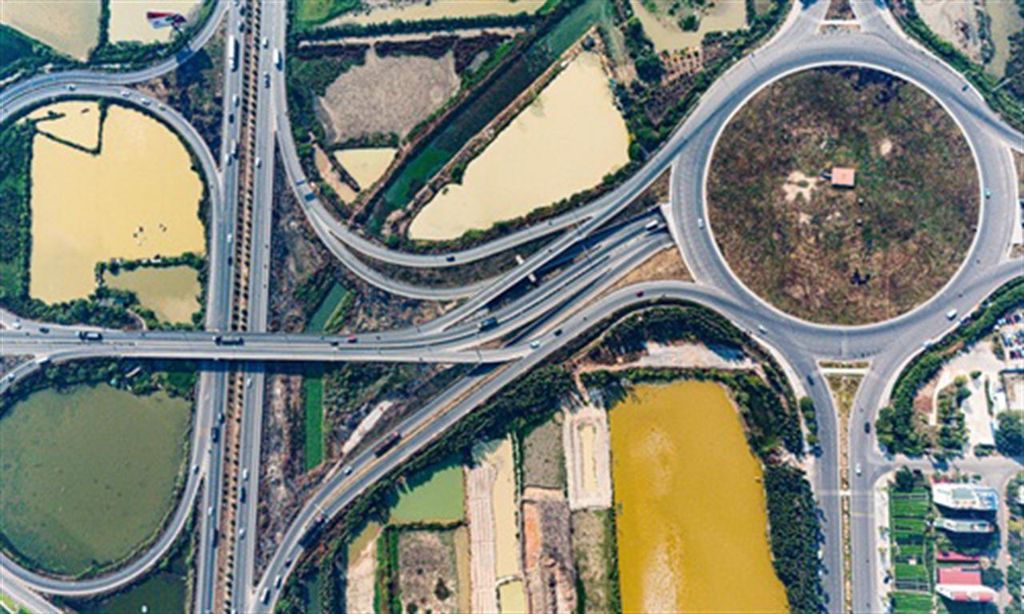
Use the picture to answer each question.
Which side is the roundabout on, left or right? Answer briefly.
right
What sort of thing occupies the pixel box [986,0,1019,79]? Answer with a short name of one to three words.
pond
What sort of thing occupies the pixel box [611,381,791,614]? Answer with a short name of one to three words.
pond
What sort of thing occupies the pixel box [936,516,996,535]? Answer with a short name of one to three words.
house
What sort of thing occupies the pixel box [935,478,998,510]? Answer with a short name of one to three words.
house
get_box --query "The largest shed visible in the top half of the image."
[834,165,859,184]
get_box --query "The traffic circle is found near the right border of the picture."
[668,0,1024,614]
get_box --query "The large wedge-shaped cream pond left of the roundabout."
[409,51,630,240]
